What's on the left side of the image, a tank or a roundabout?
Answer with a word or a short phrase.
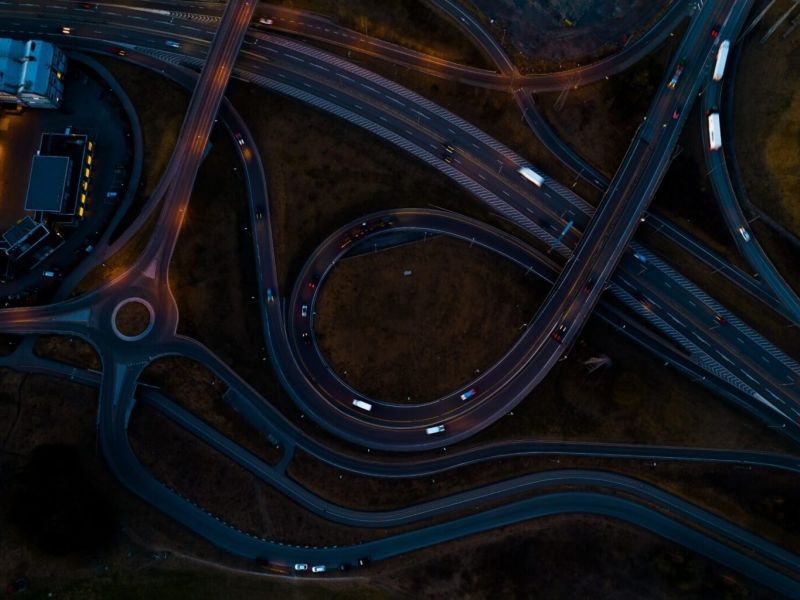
roundabout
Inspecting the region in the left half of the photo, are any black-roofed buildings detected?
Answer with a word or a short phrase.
Yes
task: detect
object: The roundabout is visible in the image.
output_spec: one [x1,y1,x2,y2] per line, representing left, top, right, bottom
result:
[49,233,201,425]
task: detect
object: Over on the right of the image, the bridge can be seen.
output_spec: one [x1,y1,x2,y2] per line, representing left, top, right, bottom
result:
[529,75,676,377]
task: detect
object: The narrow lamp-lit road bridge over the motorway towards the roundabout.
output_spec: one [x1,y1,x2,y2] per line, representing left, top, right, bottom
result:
[174,0,260,157]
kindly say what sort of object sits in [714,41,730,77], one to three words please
vehicle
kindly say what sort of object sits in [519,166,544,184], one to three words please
vehicle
